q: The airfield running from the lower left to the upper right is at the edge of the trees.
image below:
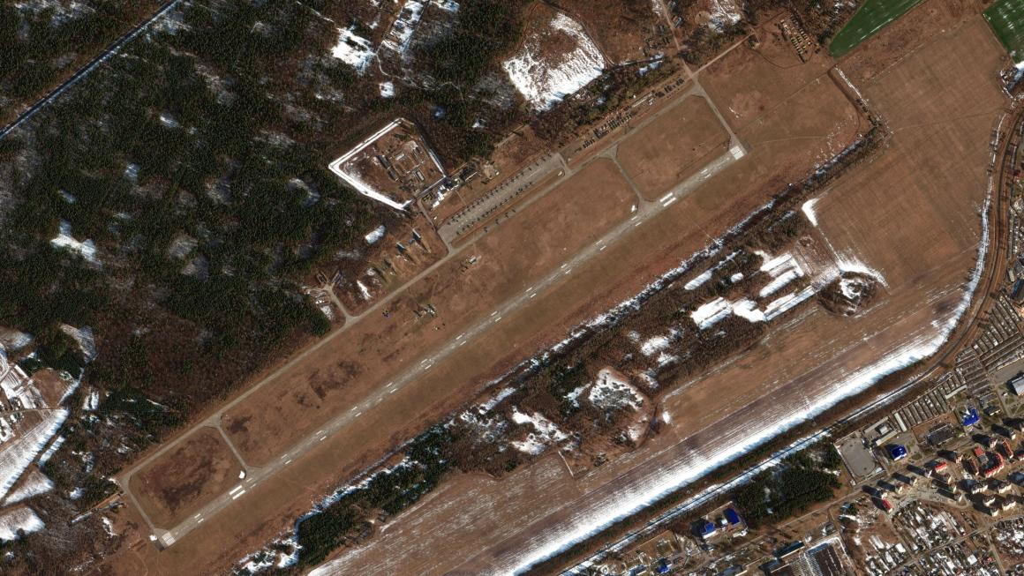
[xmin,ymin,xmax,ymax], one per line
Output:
[118,79,753,550]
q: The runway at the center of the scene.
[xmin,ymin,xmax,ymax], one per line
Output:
[159,143,747,548]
